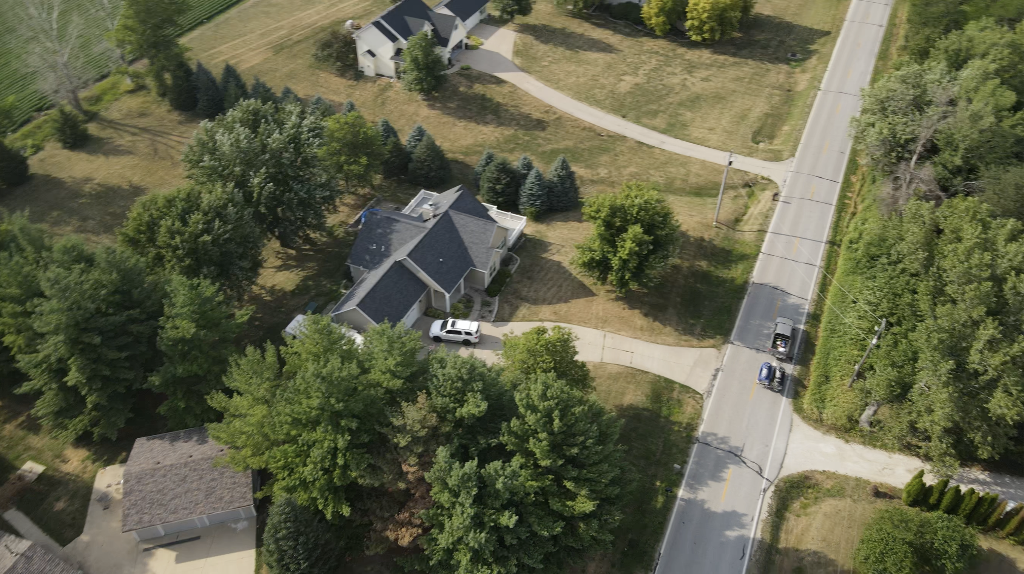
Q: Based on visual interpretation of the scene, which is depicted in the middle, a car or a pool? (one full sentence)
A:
The one visible in the middle is a car.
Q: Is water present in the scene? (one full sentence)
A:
No, no water is visible.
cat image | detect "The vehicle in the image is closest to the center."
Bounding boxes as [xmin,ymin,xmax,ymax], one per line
[428,320,478,346]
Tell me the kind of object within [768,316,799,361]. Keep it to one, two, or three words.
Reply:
truck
